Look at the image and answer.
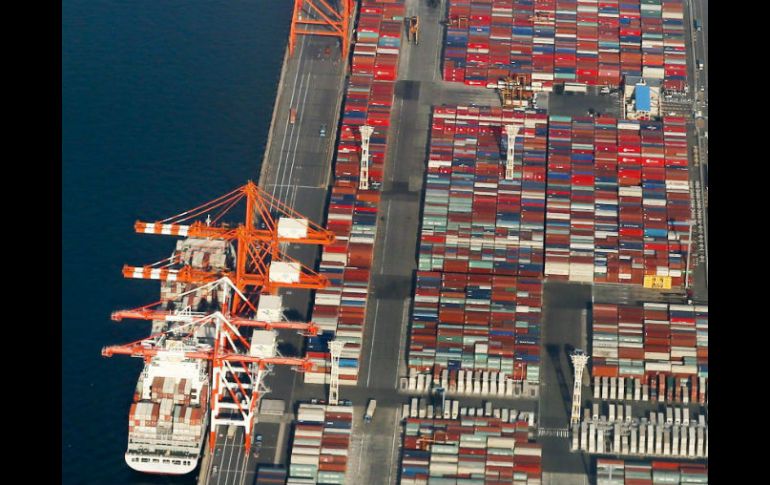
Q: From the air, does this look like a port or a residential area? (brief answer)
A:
port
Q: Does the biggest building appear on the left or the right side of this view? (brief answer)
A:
right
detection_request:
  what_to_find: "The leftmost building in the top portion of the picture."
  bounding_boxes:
[623,74,662,120]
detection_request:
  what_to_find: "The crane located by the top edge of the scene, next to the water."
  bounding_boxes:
[288,0,357,60]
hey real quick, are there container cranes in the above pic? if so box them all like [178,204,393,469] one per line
[288,0,357,60]
[132,177,336,320]
[120,223,330,373]
[109,273,319,421]
[100,310,308,456]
